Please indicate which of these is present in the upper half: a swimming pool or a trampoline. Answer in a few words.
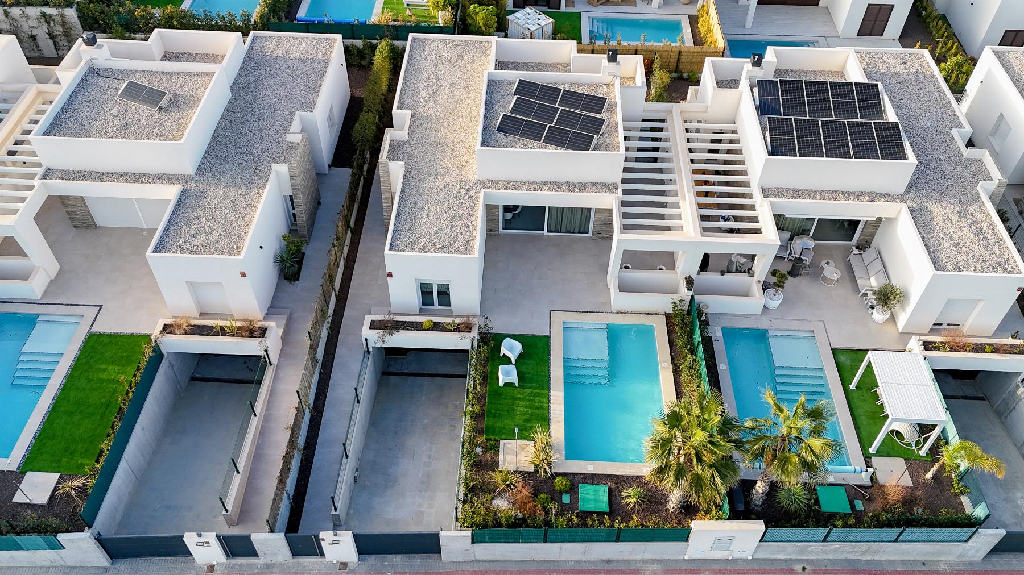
swimming pool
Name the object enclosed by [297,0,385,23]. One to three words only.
swimming pool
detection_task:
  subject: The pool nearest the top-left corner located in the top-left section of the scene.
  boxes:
[178,0,263,21]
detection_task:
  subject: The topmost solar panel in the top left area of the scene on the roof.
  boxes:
[117,78,169,109]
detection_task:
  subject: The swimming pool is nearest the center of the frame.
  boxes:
[550,310,681,477]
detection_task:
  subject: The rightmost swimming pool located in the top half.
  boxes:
[726,34,831,59]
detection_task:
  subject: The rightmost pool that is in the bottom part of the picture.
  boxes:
[706,317,872,486]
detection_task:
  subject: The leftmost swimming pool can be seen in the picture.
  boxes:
[0,303,100,472]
